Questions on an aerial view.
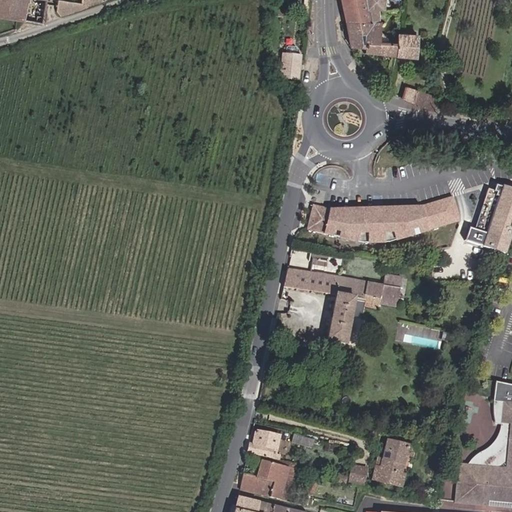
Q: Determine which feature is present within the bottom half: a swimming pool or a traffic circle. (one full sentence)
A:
What appears within the bottom half is a swimming pool.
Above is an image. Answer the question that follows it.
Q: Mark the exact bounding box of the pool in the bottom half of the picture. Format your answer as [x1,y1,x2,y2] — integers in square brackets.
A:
[396,323,442,350]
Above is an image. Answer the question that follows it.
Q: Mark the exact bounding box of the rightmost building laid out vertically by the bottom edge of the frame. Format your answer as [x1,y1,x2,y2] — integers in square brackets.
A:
[455,384,512,506]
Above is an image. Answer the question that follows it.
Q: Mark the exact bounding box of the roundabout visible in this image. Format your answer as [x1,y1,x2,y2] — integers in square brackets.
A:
[323,96,366,140]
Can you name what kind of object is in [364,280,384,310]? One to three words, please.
house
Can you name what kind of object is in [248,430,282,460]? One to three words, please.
house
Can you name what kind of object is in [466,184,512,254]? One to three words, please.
building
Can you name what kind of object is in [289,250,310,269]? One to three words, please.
building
